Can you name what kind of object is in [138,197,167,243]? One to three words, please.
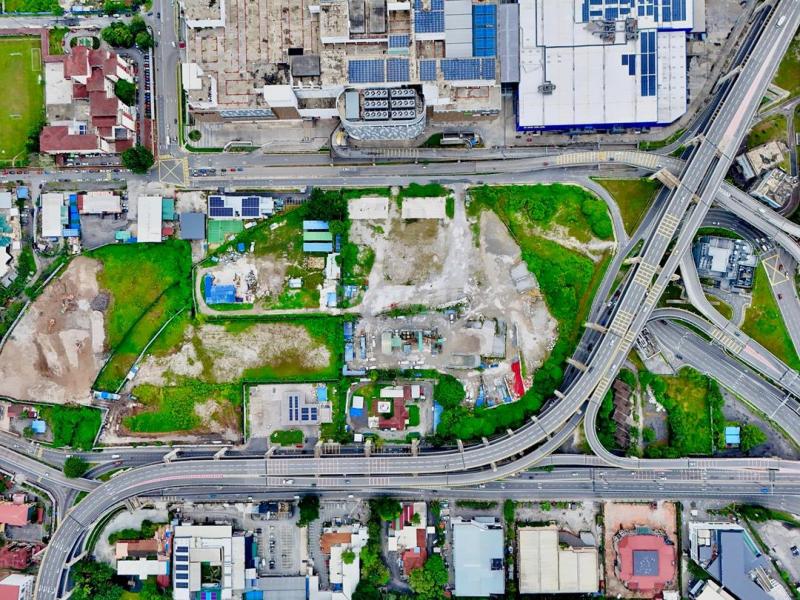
building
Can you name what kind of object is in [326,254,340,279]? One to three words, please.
shed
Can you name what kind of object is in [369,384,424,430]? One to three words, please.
house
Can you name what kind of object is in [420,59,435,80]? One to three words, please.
solar panel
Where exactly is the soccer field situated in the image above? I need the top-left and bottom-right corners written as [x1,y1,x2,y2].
[0,38,45,166]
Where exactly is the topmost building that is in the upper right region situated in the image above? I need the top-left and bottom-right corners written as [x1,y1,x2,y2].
[515,0,705,134]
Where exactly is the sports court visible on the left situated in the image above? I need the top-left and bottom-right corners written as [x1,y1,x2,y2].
[208,220,243,243]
